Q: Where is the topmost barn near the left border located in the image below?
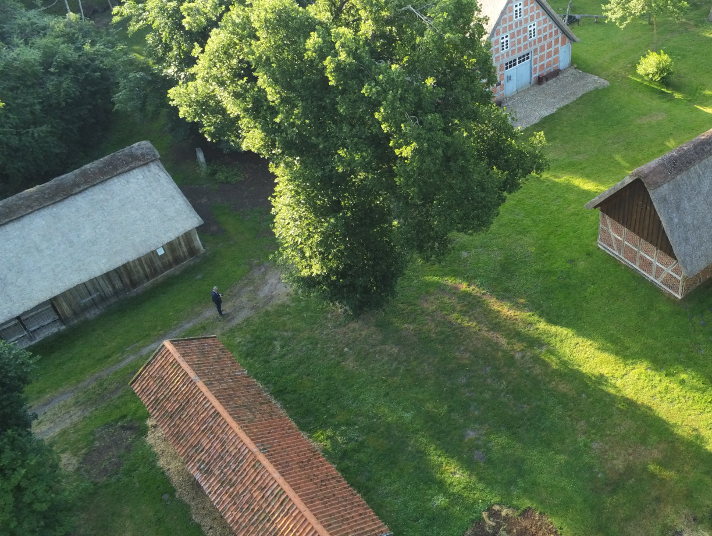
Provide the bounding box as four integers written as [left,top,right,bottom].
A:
[0,137,208,353]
